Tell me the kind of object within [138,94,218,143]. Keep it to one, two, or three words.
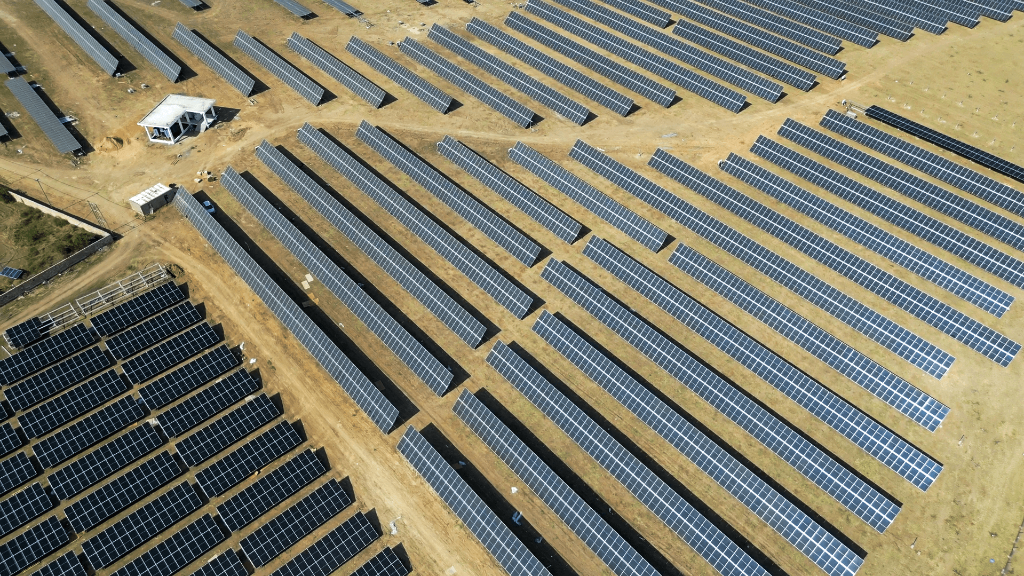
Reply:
building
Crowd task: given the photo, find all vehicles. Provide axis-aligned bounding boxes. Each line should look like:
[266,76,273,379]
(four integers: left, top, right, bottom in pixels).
[202,201,216,214]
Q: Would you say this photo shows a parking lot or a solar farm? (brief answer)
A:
solar farm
